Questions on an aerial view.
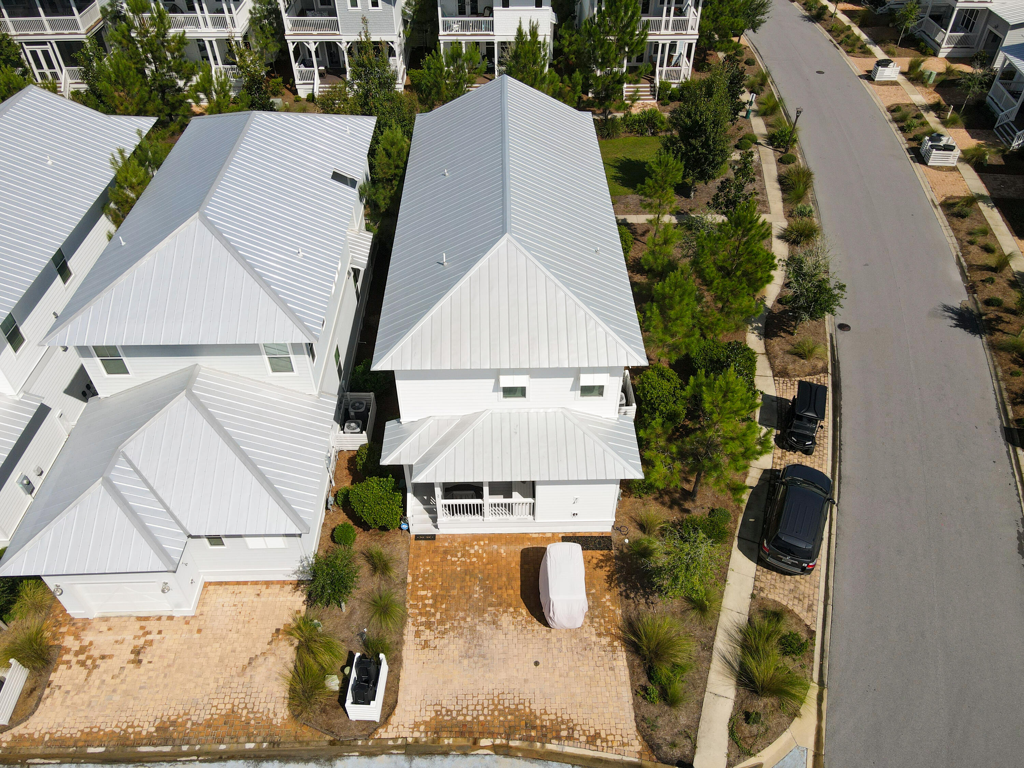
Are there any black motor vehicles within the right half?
Yes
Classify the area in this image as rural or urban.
urban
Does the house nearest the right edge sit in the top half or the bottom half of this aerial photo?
top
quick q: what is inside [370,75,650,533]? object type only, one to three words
house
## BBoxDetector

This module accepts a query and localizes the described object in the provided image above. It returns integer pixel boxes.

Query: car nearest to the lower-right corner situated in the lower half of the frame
[760,467,837,581]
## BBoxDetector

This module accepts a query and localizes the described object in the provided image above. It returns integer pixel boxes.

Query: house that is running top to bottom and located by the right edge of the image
[978,41,1024,150]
